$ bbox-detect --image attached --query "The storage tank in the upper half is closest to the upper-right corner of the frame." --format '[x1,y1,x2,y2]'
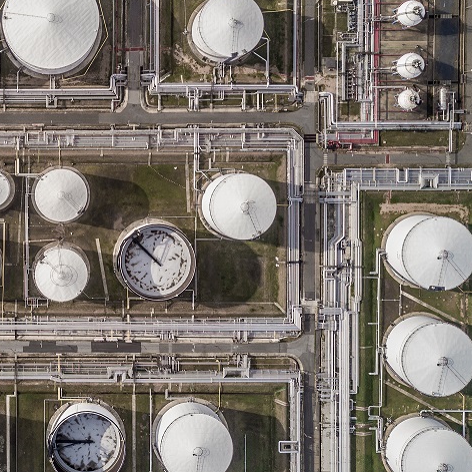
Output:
[380,0,427,32]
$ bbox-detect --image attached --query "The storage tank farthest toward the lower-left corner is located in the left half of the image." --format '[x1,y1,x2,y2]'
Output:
[45,389,127,472]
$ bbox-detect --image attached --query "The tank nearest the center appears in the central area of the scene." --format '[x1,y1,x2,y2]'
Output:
[194,156,281,244]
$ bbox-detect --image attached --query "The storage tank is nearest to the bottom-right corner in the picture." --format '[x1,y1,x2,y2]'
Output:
[372,412,472,472]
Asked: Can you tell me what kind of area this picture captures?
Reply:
industrial area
